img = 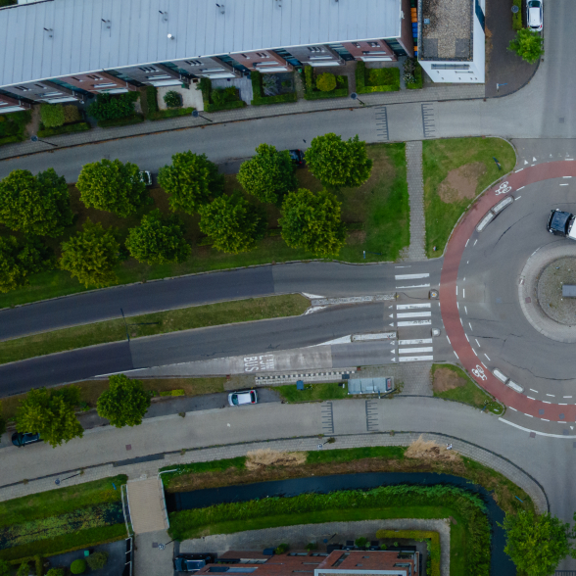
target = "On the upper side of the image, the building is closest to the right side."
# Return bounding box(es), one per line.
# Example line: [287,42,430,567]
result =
[418,0,484,83]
